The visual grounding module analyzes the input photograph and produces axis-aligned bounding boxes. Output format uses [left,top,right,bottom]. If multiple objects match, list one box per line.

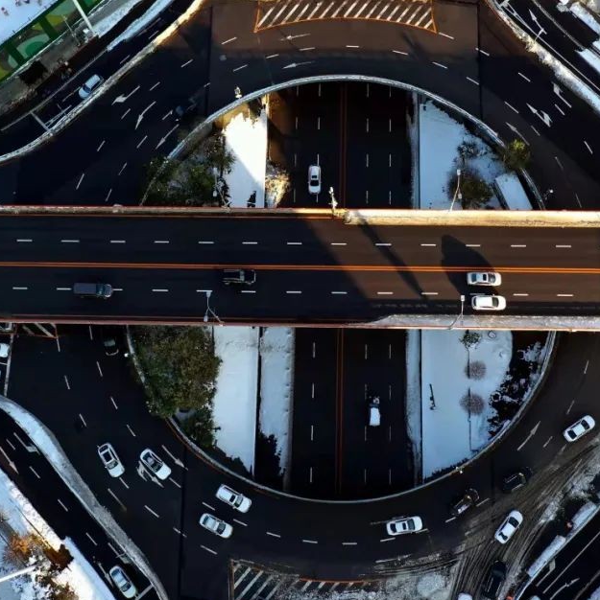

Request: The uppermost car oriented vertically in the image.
[308,165,321,193]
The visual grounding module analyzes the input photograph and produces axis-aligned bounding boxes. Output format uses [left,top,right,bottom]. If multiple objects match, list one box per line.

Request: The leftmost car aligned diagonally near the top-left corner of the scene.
[78,73,104,98]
